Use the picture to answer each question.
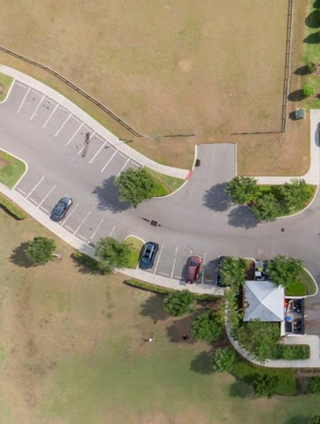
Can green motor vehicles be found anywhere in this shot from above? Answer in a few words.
No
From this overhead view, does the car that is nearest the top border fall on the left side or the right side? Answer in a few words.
left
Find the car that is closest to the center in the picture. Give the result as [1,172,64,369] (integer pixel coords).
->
[141,242,157,268]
